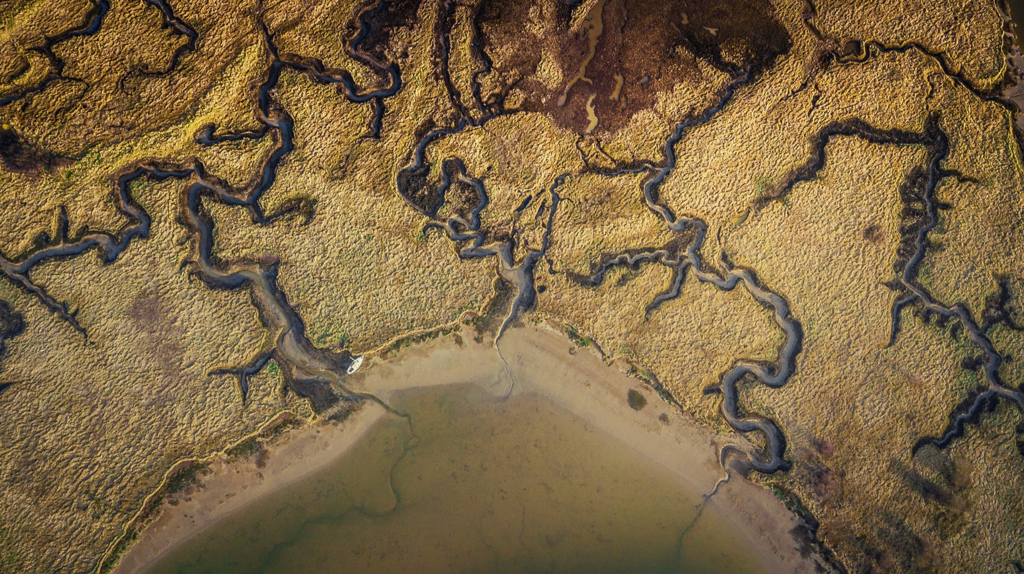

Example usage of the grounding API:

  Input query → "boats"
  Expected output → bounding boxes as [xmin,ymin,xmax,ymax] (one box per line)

[345,356,364,376]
